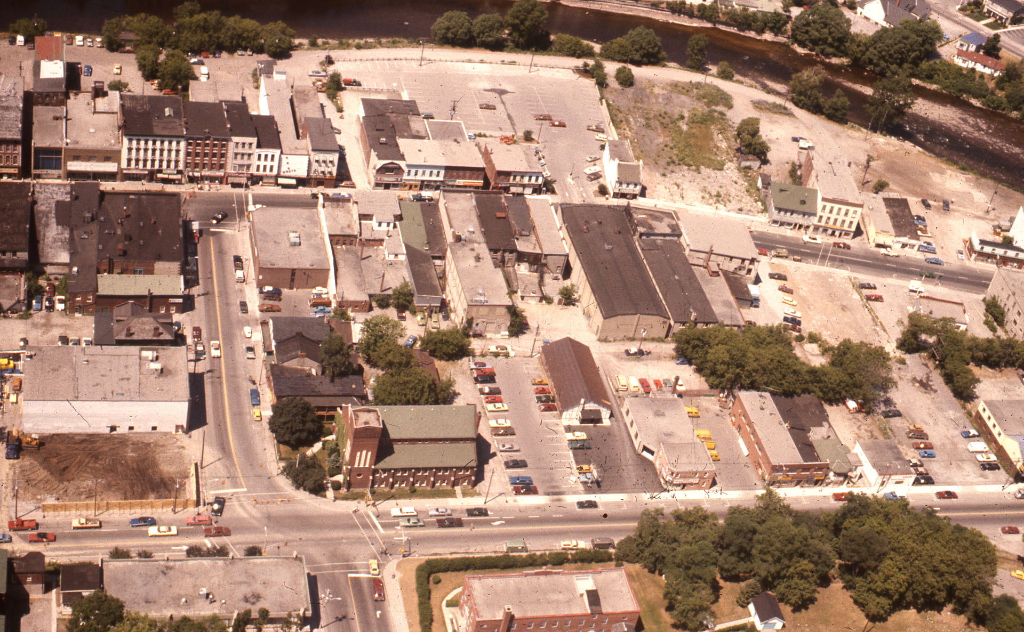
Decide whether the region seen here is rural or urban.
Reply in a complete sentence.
This place is urban.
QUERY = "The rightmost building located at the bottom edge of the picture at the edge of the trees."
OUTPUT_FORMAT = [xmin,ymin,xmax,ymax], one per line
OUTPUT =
[750,592,786,630]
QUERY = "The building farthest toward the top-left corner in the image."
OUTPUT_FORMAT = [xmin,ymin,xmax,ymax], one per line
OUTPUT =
[33,35,65,105]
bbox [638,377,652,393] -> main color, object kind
red car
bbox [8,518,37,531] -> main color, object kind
red vehicle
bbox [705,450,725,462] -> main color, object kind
yellow vehicle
